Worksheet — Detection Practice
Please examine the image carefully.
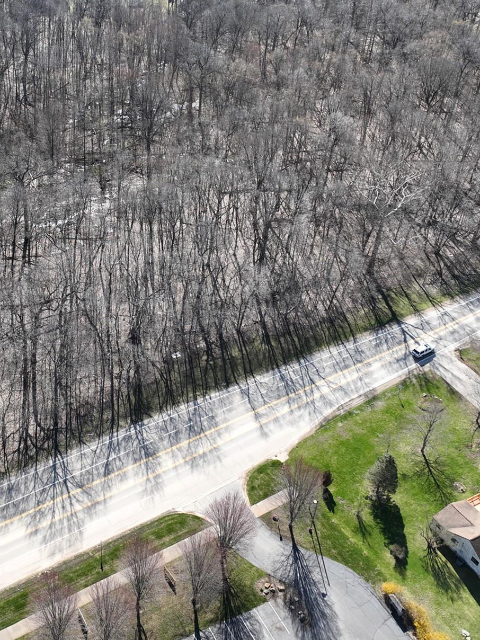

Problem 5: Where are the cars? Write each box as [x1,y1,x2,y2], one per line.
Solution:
[411,345,438,361]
